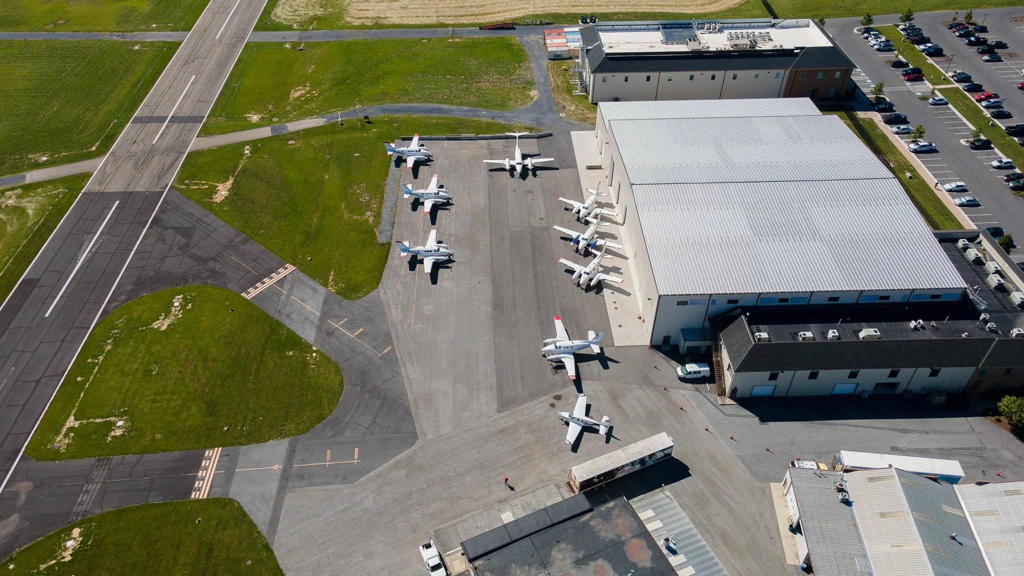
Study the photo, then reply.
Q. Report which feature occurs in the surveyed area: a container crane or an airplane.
airplane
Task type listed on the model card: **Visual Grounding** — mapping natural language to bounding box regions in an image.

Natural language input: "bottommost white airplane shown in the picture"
[555,393,611,443]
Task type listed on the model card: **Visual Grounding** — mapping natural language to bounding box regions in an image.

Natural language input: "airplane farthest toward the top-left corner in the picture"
[387,134,433,168]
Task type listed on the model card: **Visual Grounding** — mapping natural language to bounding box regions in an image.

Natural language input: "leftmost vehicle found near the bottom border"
[416,538,449,576]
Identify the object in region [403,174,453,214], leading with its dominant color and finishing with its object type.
white airplane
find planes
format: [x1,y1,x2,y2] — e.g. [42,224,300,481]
[555,393,611,443]
[403,174,453,214]
[482,134,556,176]
[553,244,630,290]
[553,182,621,222]
[537,315,602,380]
[551,212,624,254]
[399,227,455,276]
[387,134,433,168]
